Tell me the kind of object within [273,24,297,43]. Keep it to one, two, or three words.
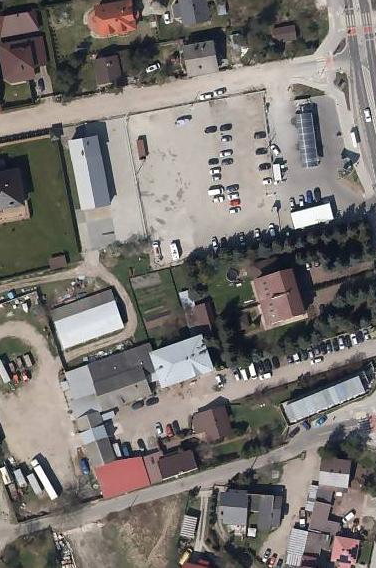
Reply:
building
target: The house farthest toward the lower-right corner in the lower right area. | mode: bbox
[329,536,361,568]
